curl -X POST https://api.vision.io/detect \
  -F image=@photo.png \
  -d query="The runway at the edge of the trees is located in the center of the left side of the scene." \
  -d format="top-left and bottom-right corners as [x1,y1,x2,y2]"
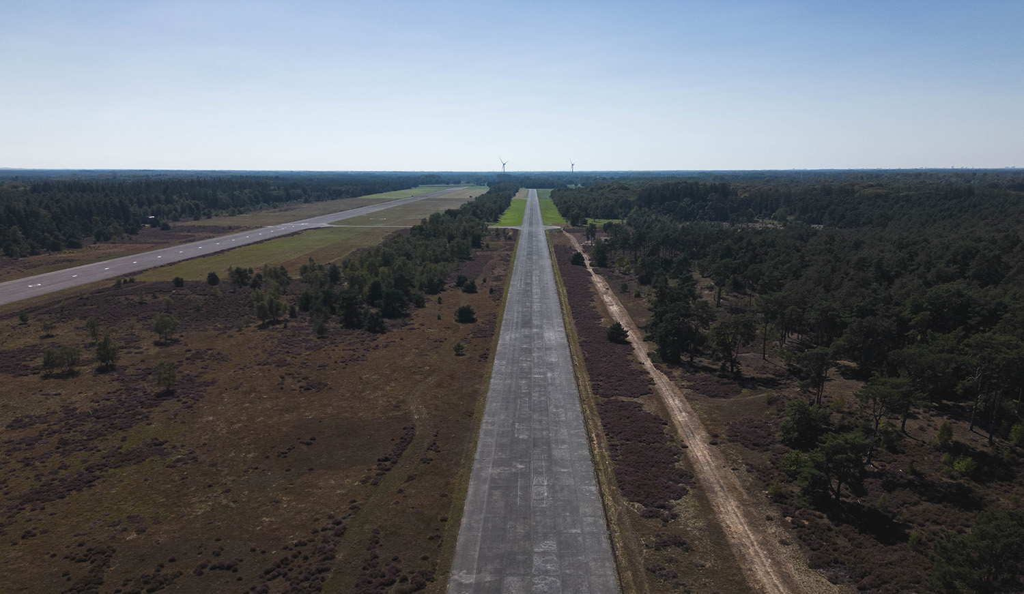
[0,187,465,305]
